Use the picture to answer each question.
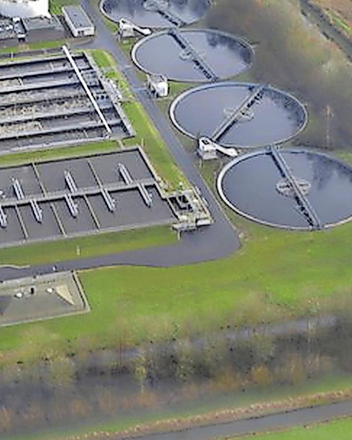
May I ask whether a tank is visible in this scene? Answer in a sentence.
Yes, there's a tank here.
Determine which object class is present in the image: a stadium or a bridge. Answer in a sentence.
Visible in the photo is a bridge.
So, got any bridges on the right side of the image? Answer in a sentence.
Yes, you'll find a bridge on the right side of the image.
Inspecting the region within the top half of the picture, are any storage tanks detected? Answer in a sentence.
Yes, looking within the top half of the picture, one can make out a storage tank.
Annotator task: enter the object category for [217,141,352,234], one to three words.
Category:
storage tank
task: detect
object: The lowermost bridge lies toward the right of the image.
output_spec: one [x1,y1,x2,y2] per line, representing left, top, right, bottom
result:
[269,141,322,230]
